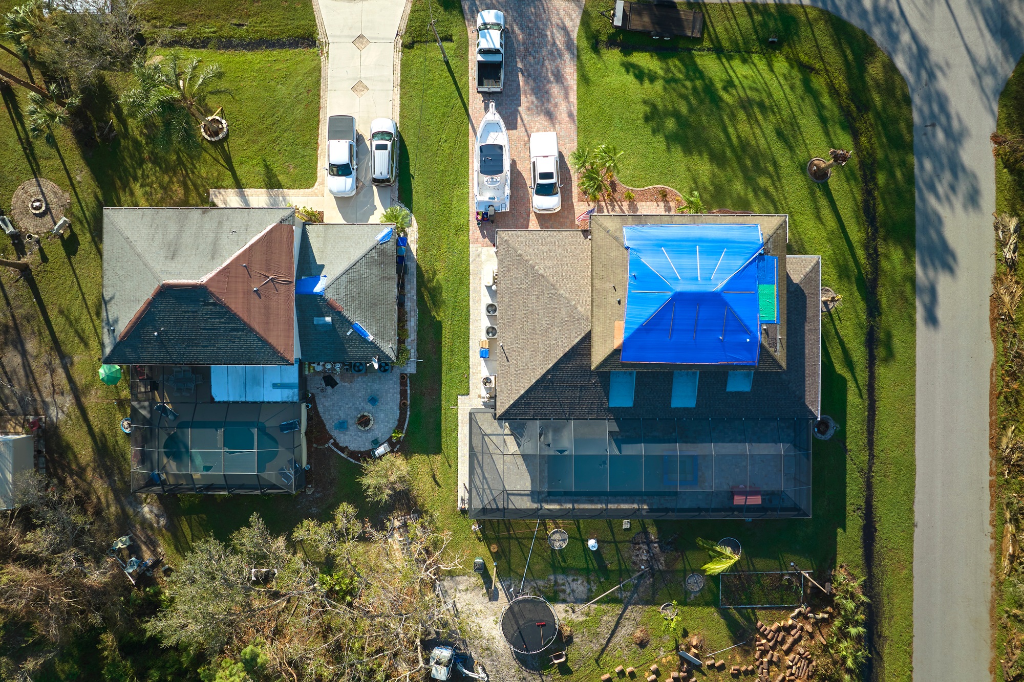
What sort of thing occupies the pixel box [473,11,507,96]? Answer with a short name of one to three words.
truck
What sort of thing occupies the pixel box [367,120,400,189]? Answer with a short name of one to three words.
car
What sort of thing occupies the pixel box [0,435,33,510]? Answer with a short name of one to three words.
shed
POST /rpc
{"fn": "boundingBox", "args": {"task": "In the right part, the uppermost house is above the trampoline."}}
[494,212,823,421]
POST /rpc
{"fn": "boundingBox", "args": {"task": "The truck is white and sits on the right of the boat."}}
[529,132,563,215]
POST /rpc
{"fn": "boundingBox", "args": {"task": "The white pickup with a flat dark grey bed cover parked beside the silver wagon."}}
[324,116,359,199]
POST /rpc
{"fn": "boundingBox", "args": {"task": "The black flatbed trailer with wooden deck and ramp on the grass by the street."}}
[602,0,701,45]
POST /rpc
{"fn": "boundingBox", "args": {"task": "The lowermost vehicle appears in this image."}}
[429,629,486,682]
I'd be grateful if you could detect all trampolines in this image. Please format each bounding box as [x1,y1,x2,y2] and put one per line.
[502,593,560,659]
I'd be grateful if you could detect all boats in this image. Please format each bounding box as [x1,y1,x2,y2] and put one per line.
[474,100,510,223]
